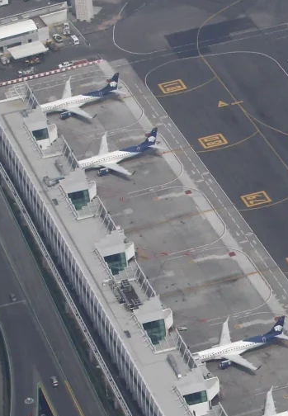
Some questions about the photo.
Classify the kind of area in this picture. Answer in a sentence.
This image shows an airport.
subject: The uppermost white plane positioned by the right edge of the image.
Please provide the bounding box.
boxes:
[190,313,288,369]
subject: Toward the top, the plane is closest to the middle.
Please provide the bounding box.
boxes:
[71,128,166,177]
